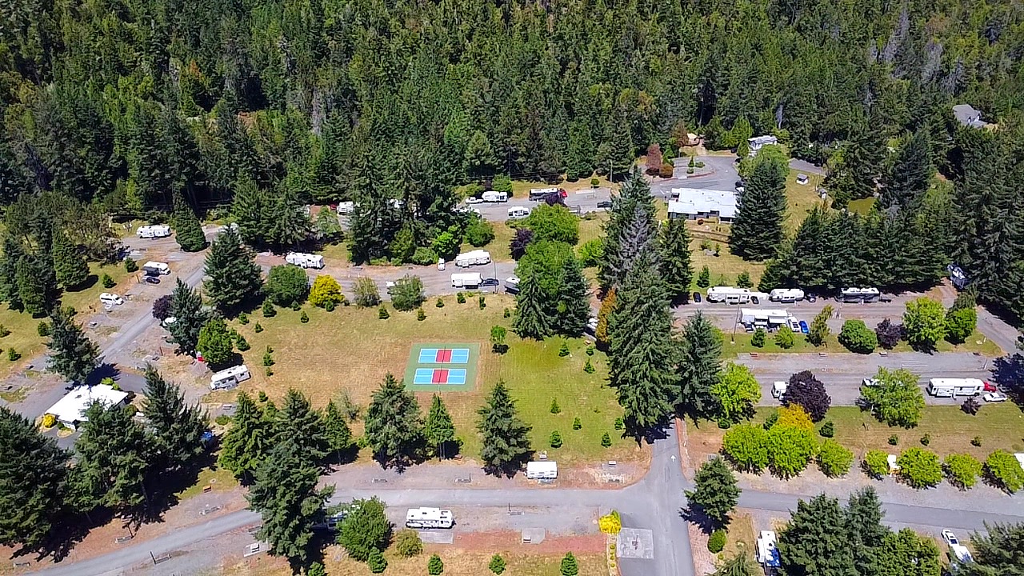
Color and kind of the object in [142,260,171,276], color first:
white camper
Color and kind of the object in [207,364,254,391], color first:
white trailer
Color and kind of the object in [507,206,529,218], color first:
white vehicle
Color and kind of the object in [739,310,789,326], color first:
white trailer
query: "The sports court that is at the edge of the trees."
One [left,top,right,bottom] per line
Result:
[404,343,479,391]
